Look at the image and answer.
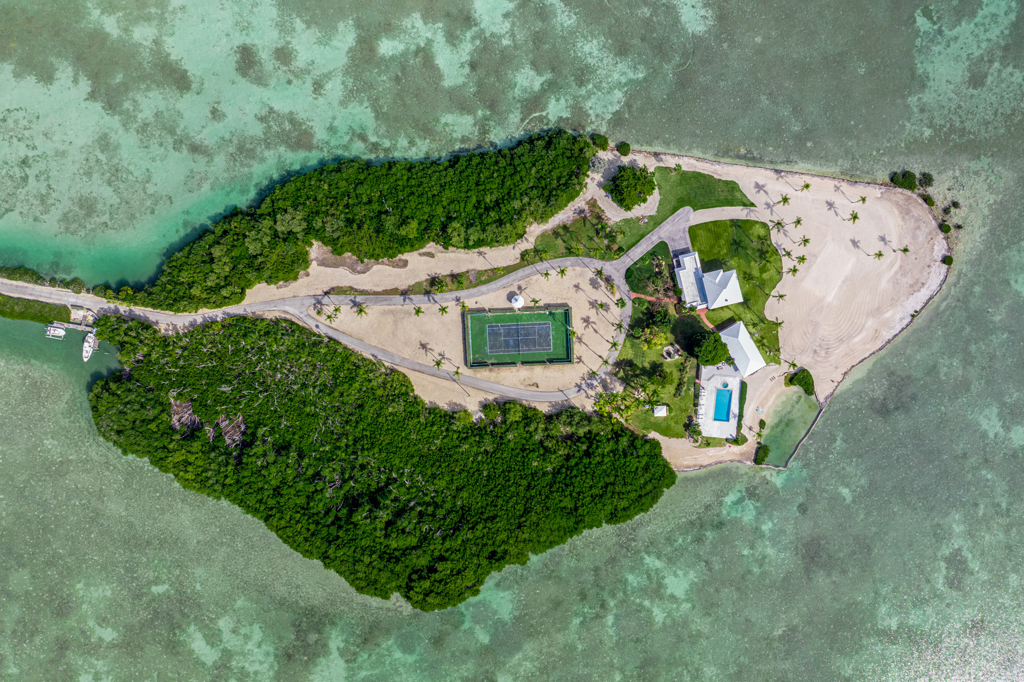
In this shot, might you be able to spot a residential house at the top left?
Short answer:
No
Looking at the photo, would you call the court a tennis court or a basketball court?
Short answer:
tennis court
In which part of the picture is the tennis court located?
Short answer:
center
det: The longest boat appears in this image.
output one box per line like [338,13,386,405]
[84,333,96,362]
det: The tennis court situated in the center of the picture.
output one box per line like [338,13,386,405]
[470,310,570,366]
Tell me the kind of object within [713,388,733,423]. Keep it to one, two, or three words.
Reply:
swimming pool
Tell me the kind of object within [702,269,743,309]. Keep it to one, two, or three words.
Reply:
house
